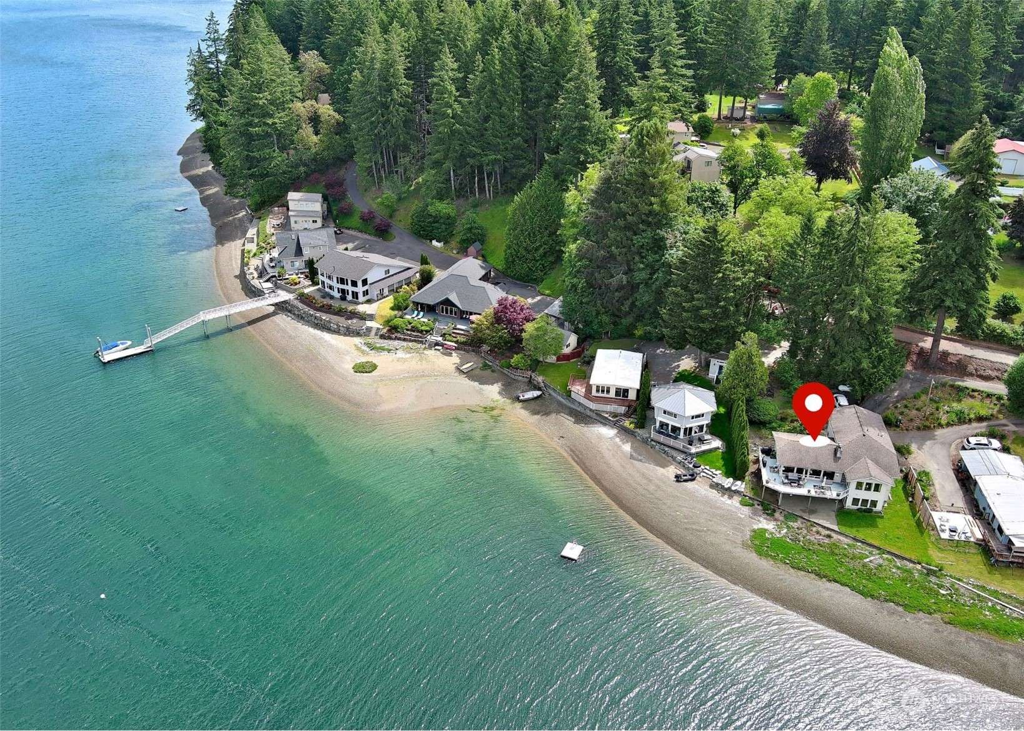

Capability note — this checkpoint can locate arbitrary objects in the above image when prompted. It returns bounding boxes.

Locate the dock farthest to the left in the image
[89,321,154,365]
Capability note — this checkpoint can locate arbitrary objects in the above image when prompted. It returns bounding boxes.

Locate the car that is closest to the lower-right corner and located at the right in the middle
[962,432,1007,451]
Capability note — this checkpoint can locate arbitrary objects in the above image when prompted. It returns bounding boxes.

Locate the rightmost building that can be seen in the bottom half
[957,453,1024,578]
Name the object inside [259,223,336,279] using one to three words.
house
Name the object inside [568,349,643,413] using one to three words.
building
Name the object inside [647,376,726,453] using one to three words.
house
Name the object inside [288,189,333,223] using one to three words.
building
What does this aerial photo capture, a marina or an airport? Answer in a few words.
marina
